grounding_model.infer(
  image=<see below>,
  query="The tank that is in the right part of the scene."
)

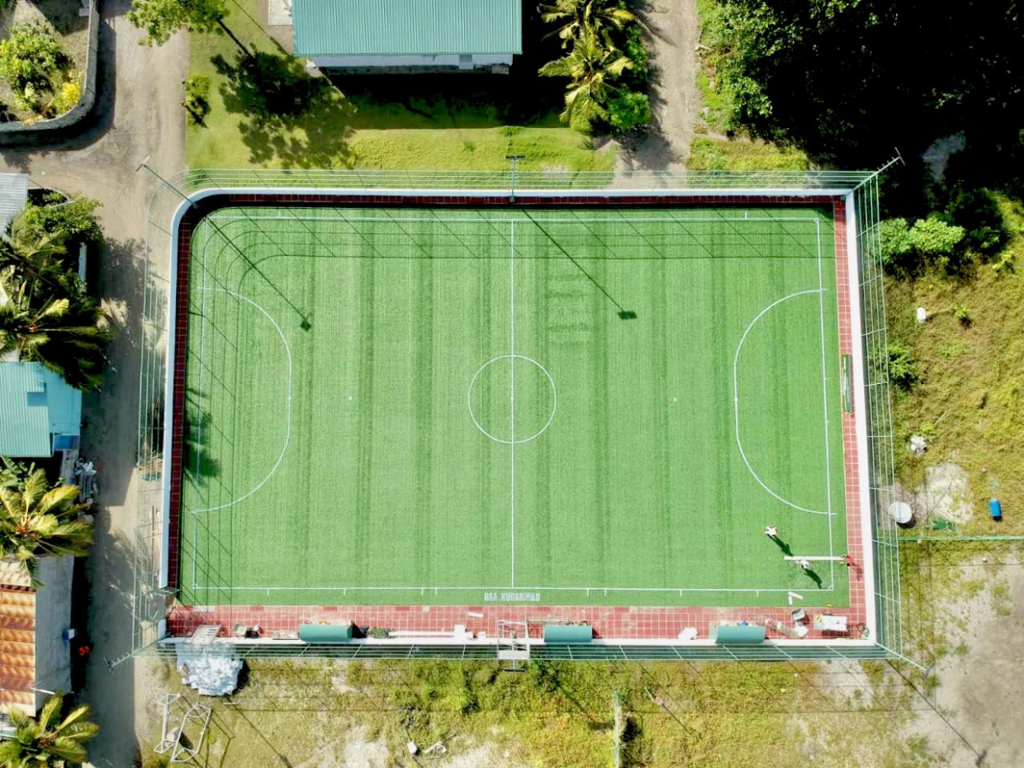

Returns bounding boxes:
[884,498,913,523]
